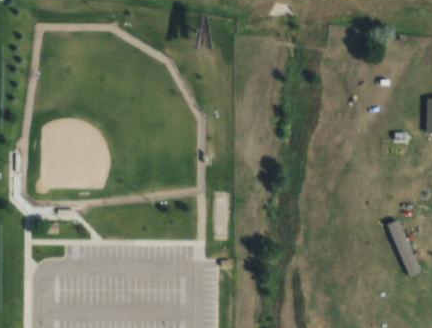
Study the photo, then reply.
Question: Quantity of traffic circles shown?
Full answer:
Not a single traffic circle can be seen.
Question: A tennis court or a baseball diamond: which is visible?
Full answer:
It is a baseball diamond that can be seen here.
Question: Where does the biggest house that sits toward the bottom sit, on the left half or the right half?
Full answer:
The biggest house that sits toward the bottom appears in the right half of the scene.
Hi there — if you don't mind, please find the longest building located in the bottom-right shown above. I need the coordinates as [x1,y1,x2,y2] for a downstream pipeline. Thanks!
[386,222,420,276]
